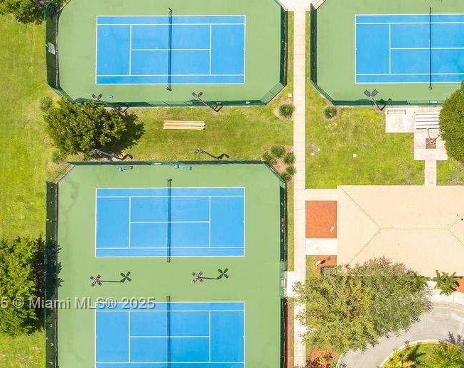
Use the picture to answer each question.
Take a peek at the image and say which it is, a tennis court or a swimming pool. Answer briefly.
tennis court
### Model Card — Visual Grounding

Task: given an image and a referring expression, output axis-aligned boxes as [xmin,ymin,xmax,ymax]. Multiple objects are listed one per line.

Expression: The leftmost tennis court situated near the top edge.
[58,0,285,104]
